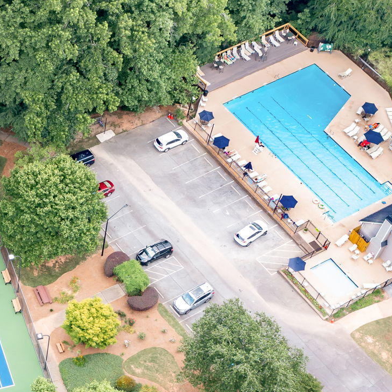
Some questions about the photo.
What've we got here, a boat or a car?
car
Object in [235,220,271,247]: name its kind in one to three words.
car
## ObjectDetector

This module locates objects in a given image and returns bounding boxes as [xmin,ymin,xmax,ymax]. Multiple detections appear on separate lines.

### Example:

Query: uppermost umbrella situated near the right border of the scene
[361,103,379,123]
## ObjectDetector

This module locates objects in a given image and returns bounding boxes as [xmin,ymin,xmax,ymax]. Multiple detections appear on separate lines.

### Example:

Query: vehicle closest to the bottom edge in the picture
[174,284,216,315]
